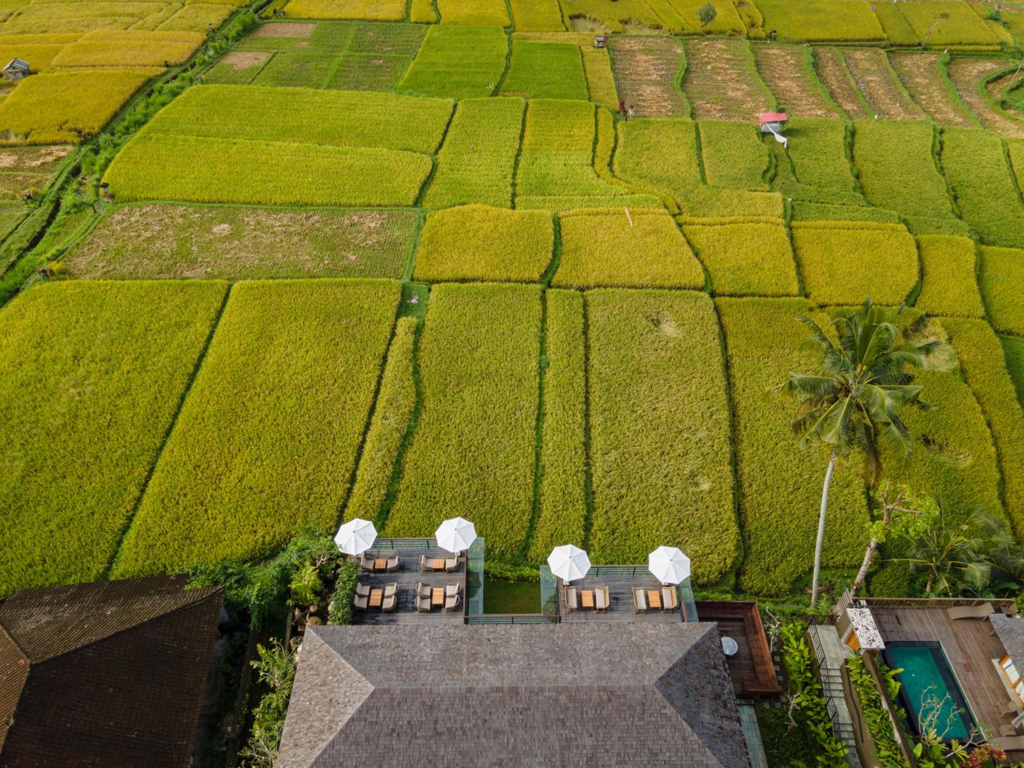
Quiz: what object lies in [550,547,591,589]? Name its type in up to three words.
umbrella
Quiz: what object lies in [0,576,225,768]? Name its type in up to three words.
house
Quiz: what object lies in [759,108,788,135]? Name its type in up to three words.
shed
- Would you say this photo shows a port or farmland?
farmland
